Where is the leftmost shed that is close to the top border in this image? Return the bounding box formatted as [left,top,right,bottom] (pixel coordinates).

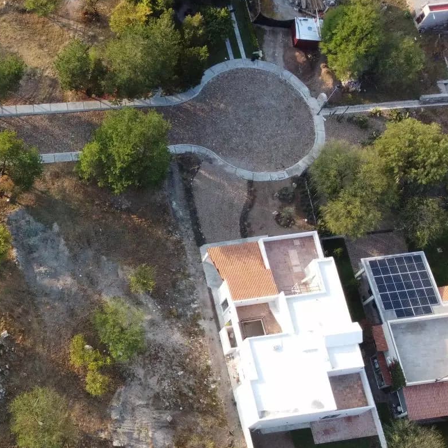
[289,9,324,53]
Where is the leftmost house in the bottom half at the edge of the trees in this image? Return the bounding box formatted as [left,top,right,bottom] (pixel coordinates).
[199,231,374,435]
